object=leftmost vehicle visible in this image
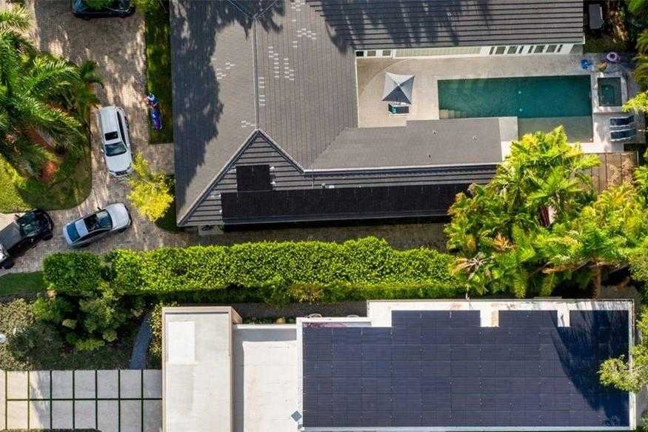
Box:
[0,204,56,264]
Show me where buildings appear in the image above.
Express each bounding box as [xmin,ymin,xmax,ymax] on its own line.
[169,0,588,229]
[162,299,635,432]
